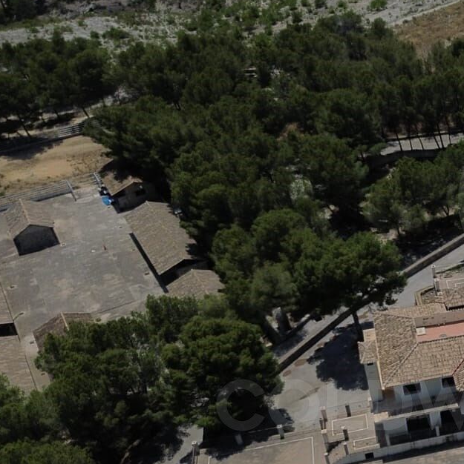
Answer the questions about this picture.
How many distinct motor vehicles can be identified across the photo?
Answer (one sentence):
No motor vehicles are visible.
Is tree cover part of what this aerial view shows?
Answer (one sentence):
Yes, tree cover can be seen from above here.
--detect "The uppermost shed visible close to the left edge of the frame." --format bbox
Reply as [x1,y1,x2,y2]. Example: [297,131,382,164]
[5,198,60,256]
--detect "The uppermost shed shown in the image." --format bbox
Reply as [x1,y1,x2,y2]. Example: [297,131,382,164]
[100,154,159,212]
